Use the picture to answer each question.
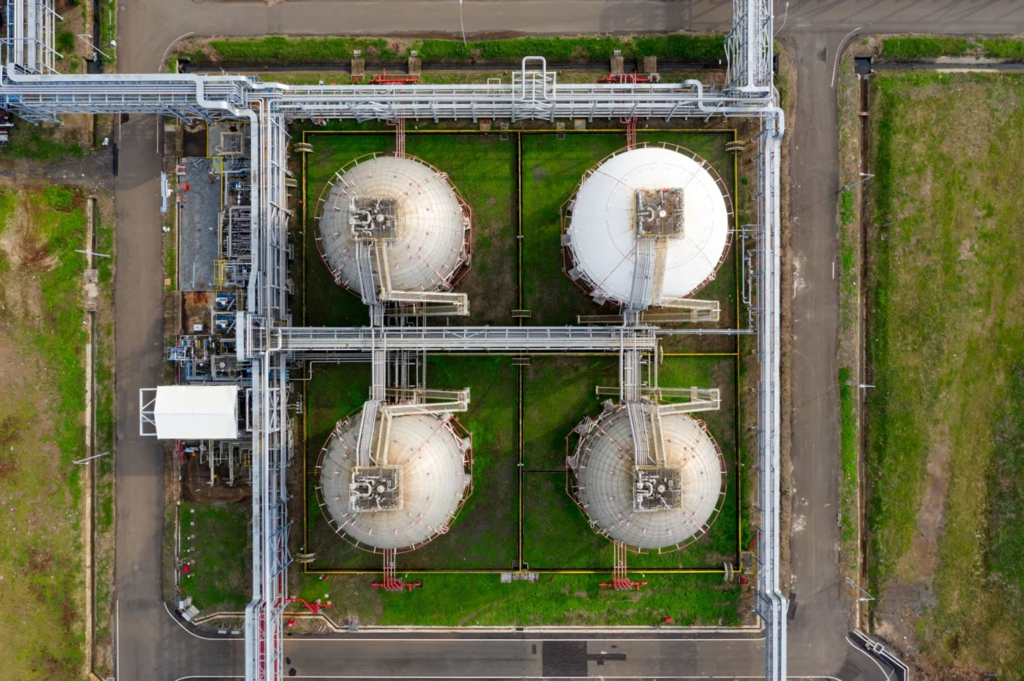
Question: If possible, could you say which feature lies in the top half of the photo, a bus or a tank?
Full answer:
You can see a tank in the top half of the photo.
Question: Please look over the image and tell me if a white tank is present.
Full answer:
Yes, there's a white tank here.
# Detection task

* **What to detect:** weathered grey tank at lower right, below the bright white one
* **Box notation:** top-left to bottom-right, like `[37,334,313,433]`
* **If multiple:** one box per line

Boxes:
[562,328,726,559]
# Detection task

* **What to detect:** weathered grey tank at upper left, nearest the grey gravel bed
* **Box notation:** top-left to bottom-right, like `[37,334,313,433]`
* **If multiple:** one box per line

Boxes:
[314,146,477,324]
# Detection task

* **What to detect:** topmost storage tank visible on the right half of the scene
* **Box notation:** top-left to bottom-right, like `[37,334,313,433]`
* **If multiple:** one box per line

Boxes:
[557,141,731,325]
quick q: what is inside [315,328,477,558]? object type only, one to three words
storage tank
